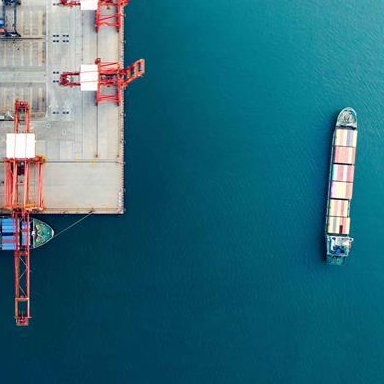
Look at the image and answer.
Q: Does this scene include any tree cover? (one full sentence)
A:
No, no tree cover is visible.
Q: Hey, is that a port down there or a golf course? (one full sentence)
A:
This image shows a port.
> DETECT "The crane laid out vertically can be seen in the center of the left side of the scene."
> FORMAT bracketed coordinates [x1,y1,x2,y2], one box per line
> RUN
[5,102,47,327]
